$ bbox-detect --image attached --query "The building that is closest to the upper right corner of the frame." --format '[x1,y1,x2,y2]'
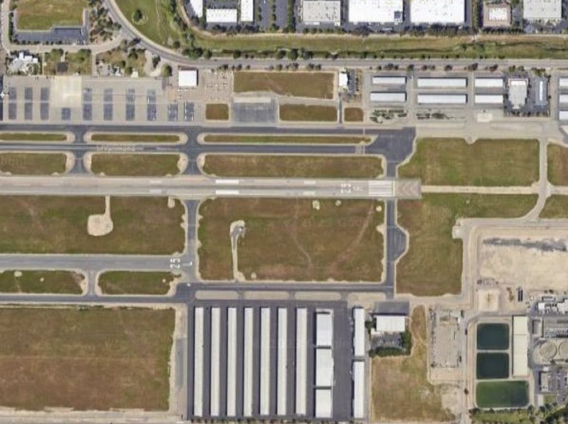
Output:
[524,0,563,23]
